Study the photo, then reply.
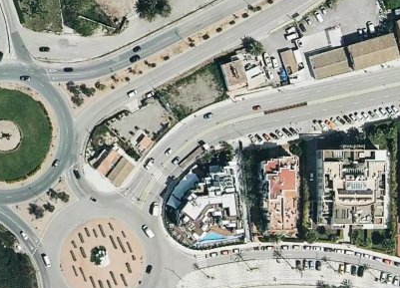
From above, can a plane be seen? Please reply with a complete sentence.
No, the picture doesn't show any plane.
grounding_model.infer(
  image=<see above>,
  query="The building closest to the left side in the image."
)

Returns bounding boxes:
[89,143,137,189]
